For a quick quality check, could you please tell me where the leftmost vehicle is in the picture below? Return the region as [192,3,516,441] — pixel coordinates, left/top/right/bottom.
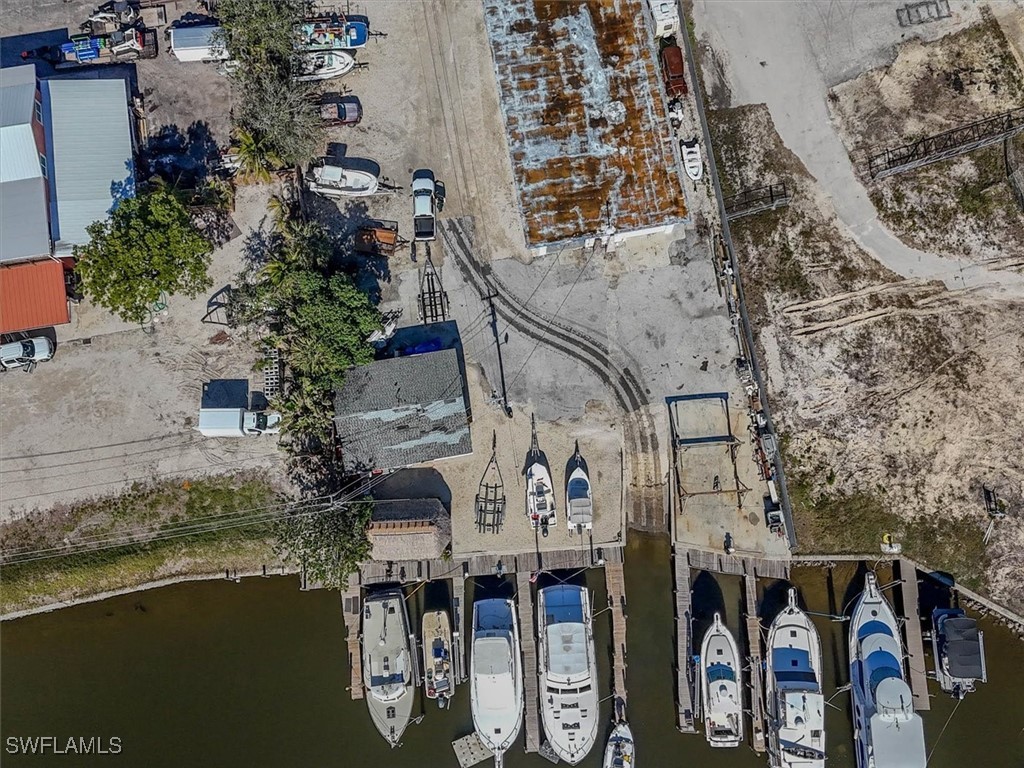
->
[0,337,61,375]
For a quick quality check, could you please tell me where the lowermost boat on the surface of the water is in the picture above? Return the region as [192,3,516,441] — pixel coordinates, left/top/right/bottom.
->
[603,718,637,768]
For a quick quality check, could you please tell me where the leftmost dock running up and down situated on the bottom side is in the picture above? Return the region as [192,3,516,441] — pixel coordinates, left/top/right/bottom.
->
[341,582,364,699]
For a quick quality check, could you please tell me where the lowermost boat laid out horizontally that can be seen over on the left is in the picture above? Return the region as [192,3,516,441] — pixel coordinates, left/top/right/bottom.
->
[305,166,379,200]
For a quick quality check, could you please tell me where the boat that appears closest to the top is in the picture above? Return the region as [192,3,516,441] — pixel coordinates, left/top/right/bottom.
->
[293,12,369,55]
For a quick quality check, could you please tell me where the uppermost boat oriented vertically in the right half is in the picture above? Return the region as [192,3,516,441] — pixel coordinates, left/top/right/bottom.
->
[678,137,701,195]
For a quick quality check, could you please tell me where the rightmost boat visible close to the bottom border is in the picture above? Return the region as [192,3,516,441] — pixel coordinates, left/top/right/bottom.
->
[928,608,981,765]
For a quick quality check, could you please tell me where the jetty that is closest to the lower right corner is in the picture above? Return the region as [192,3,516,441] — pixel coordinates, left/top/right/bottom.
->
[894,558,935,710]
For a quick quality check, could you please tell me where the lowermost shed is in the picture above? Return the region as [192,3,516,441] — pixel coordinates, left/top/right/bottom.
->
[362,498,453,562]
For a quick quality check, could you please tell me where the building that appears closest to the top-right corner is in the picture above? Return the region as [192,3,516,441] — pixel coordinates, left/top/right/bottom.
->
[487,0,690,263]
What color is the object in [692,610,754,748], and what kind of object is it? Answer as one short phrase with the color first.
white boat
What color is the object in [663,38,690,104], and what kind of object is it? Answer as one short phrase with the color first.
red vehicle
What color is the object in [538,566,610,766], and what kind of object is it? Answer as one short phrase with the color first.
white boat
